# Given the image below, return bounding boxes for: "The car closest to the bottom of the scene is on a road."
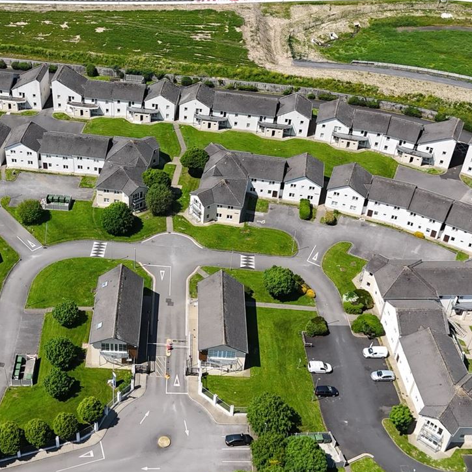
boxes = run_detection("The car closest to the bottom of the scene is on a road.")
[225,431,252,446]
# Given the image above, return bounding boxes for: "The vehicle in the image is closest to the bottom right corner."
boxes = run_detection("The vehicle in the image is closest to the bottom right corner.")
[371,368,396,380]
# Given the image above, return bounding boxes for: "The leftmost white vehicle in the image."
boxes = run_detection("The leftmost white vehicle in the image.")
[307,357,333,372]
